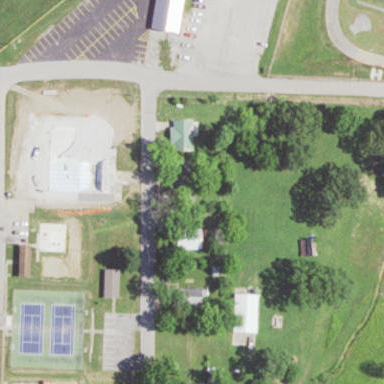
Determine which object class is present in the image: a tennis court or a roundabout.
tennis court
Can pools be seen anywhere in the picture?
Yes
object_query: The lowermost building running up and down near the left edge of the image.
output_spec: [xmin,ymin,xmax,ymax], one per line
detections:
[19,246,31,277]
